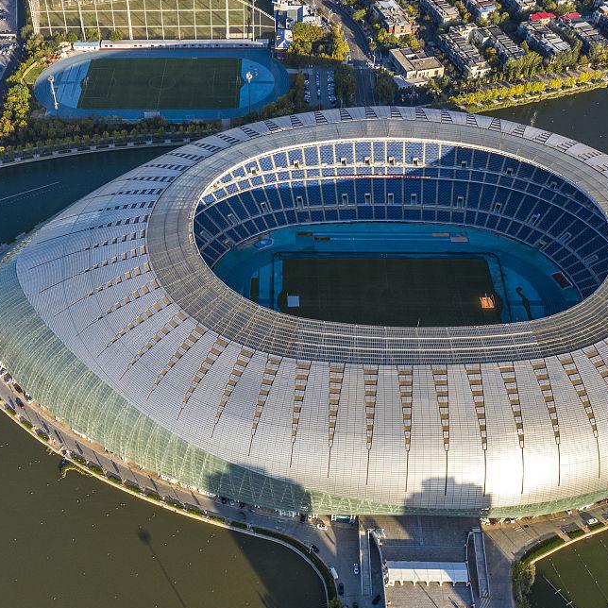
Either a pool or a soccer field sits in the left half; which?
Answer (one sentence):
There is a soccer field in the left half.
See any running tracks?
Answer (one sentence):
Yes, you can see a running track in this photo.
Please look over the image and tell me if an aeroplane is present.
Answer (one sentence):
No, there is no aeroplane in the image.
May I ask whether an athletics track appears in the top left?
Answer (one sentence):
Yes, the scene does show an athletics track in the top left.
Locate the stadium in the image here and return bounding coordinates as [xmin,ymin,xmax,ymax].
[0,107,608,525]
